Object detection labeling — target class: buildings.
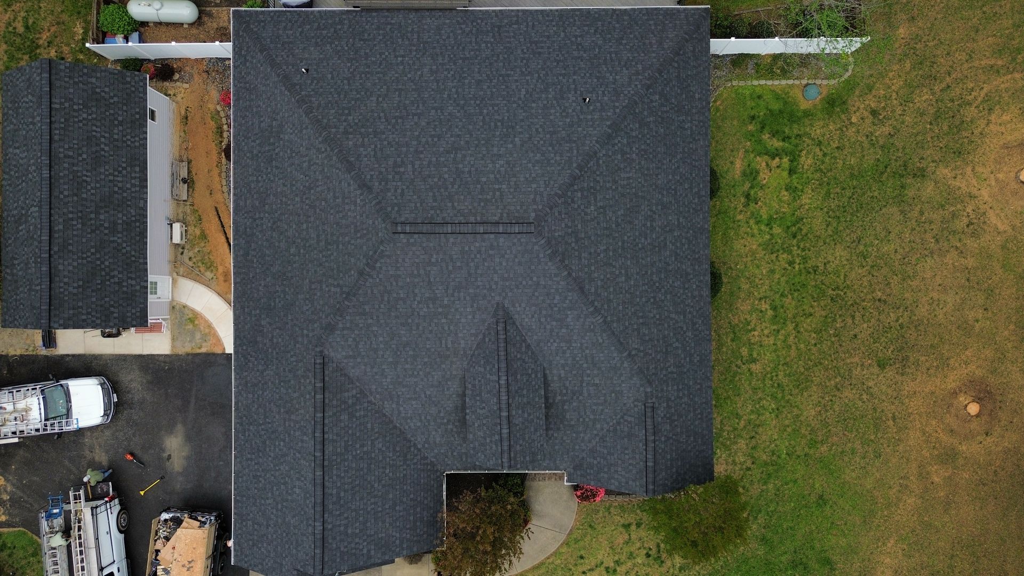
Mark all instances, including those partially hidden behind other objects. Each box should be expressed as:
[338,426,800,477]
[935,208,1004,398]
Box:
[230,6,713,576]
[1,57,171,331]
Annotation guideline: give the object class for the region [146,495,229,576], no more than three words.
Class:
trailer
